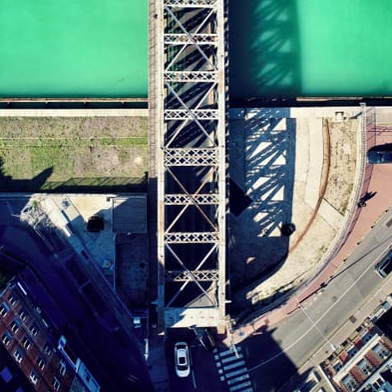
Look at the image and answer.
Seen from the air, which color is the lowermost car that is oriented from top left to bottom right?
black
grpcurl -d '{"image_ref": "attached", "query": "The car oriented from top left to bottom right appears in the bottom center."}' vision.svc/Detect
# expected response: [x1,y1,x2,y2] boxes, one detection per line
[191,327,217,356]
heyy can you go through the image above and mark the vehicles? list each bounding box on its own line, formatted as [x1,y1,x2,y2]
[368,148,392,164]
[174,343,190,380]
[191,327,217,356]
[374,245,392,277]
